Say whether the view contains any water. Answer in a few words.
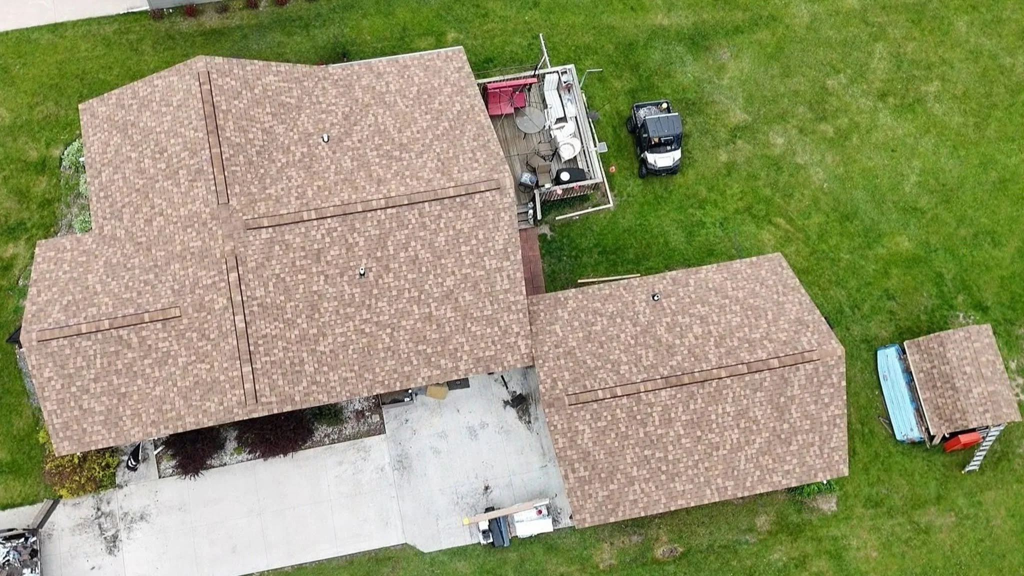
No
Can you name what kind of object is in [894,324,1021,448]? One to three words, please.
shed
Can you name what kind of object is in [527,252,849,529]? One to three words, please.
building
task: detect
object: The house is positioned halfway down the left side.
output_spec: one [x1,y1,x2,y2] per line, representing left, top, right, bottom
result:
[8,46,535,456]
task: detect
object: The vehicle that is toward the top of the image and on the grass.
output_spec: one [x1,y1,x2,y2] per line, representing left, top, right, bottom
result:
[627,100,682,179]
